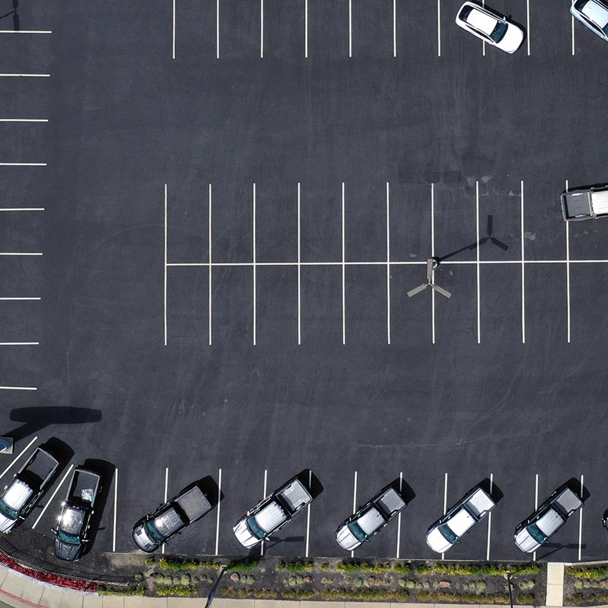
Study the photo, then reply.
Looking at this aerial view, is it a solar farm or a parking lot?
parking lot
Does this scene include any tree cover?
No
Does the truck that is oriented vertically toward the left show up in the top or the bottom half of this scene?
bottom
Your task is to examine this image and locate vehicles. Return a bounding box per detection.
[455,1,524,54]
[49,464,104,560]
[0,444,63,532]
[337,483,409,550]
[512,483,587,552]
[425,484,499,553]
[235,475,315,546]
[562,187,608,222]
[136,482,215,551]
[569,0,608,45]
